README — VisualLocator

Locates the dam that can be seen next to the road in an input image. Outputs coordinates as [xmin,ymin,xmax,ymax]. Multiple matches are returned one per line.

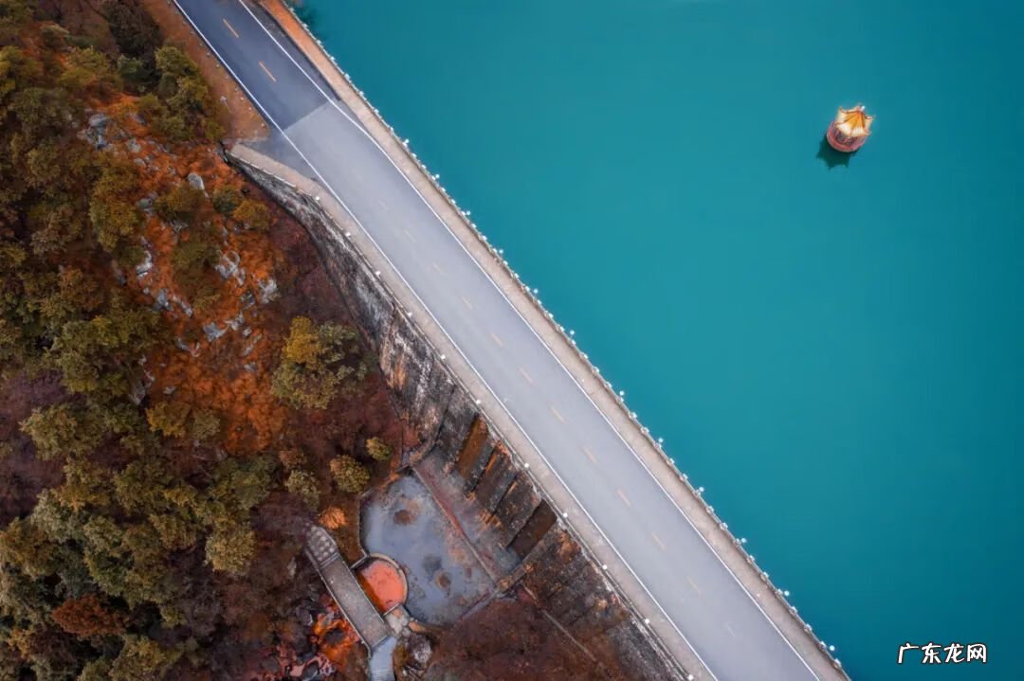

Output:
[225,0,853,681]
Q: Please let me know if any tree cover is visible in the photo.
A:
Yes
